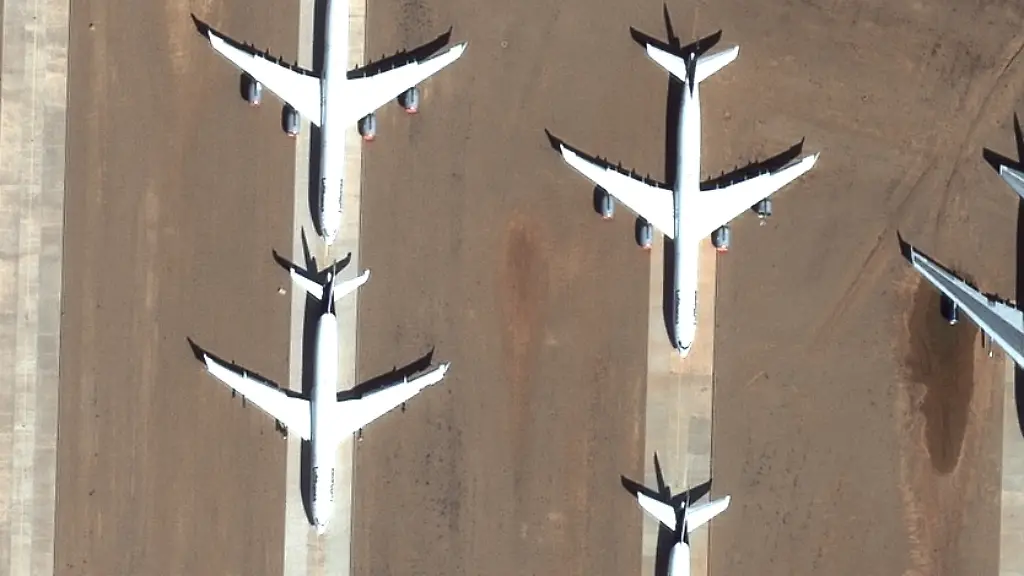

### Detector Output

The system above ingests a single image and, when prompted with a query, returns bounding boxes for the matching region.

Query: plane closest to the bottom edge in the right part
[640,487,731,576]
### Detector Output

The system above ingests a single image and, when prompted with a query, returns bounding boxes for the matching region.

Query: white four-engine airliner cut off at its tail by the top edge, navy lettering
[208,0,466,244]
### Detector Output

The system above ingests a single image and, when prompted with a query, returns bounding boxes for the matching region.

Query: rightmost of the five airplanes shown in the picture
[912,245,1024,369]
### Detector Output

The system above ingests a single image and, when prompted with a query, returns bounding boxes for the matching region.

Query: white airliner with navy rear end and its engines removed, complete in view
[204,263,449,535]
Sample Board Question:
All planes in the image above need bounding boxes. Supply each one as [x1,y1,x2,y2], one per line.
[204,263,449,535]
[562,38,819,358]
[912,245,1024,369]
[208,0,466,244]
[640,487,731,576]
